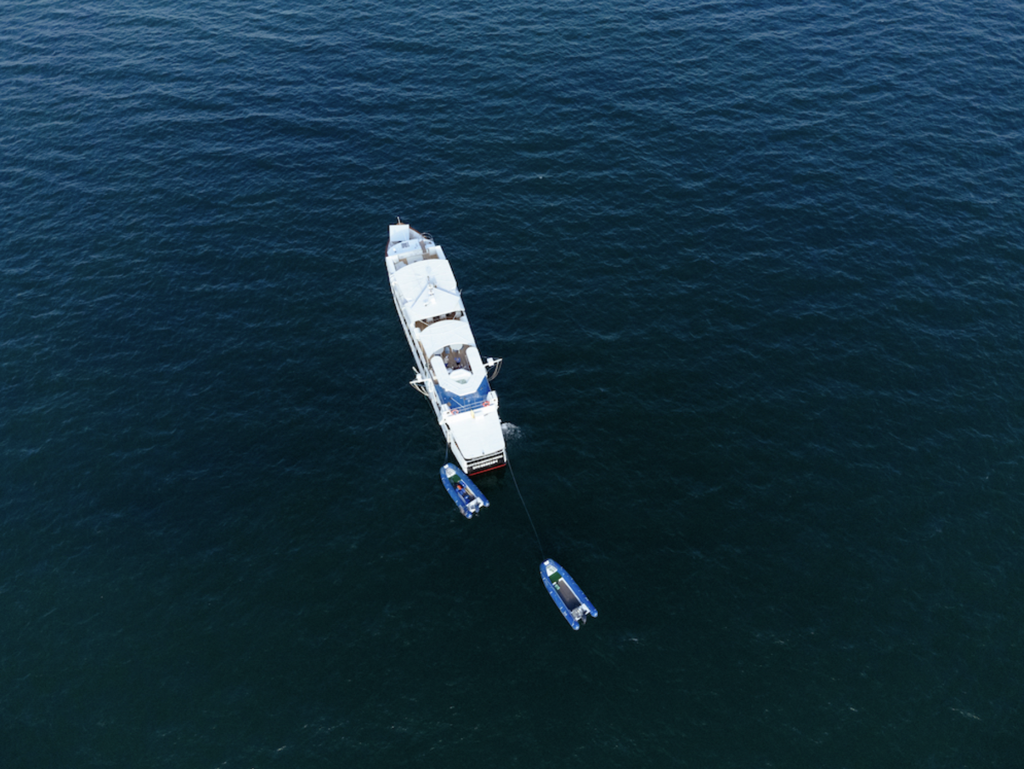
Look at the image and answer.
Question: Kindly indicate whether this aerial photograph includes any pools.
No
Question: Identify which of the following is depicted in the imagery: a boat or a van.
boat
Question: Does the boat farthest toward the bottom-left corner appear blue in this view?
Yes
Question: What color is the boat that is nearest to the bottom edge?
blue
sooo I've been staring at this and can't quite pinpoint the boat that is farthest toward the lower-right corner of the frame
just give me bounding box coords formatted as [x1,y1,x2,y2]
[538,558,596,629]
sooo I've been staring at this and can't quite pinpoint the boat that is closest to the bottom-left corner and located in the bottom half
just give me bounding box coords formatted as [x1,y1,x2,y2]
[439,462,489,519]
